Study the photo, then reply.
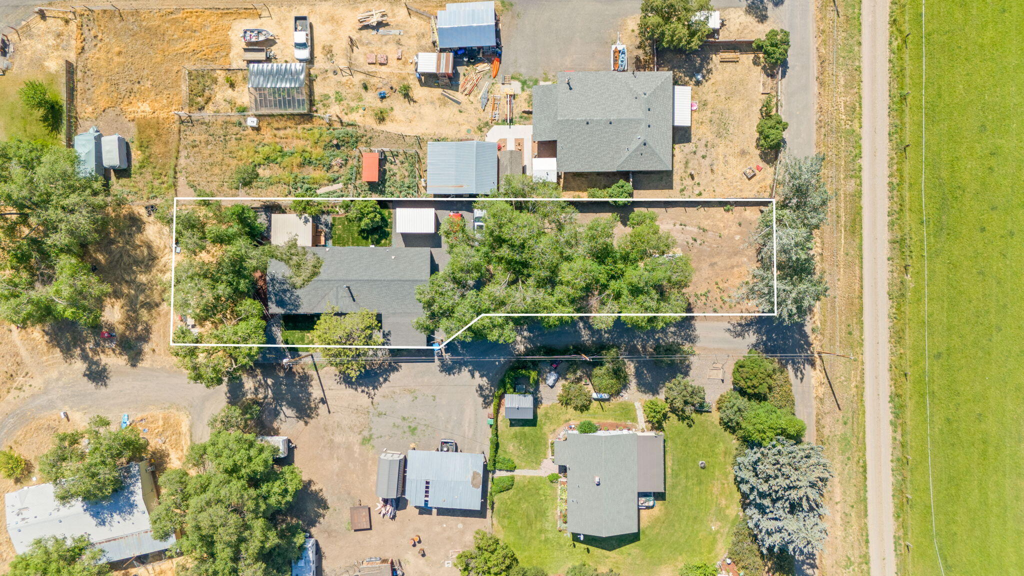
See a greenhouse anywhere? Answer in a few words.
Yes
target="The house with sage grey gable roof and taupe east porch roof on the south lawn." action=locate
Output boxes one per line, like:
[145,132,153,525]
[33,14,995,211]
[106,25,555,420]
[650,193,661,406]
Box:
[554,431,664,541]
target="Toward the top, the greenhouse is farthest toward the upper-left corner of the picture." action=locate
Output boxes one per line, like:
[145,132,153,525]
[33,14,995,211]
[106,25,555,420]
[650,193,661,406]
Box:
[249,63,311,114]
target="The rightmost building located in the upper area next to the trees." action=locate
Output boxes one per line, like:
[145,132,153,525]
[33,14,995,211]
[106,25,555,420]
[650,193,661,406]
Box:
[533,69,691,183]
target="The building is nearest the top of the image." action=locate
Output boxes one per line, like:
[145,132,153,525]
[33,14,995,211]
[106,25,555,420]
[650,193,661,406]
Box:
[438,1,496,52]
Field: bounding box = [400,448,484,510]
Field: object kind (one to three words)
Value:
building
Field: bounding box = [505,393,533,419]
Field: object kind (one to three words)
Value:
shed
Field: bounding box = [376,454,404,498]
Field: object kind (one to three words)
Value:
shed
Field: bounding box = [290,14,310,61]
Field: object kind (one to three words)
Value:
vehicle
